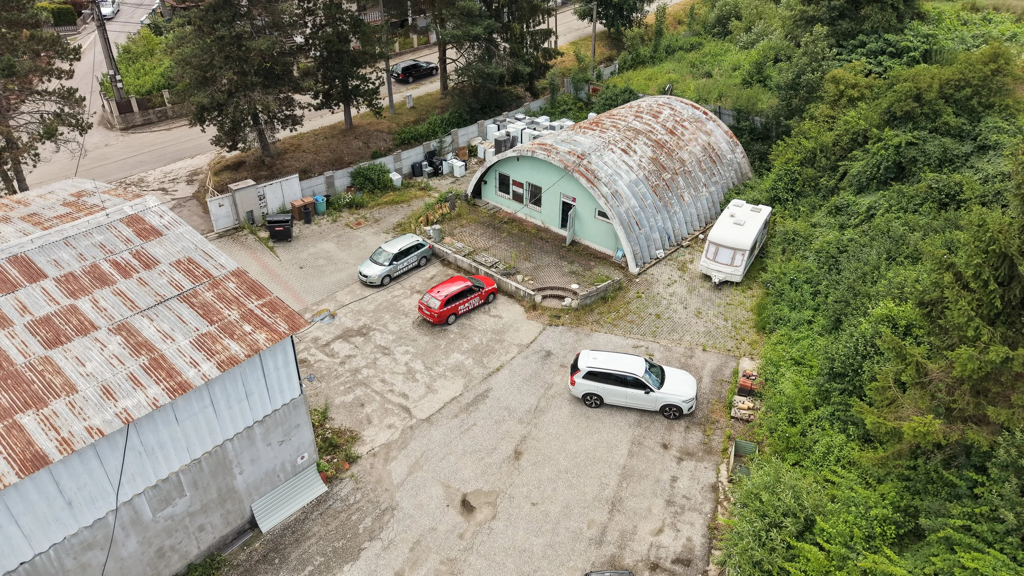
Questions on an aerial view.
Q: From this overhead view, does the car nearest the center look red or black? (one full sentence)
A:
The car nearest the center looks red in the image.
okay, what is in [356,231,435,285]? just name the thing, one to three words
car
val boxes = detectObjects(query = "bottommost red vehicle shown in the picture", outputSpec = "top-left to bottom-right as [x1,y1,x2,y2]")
[415,275,500,325]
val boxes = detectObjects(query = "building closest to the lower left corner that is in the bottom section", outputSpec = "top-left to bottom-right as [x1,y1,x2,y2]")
[0,153,318,576]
